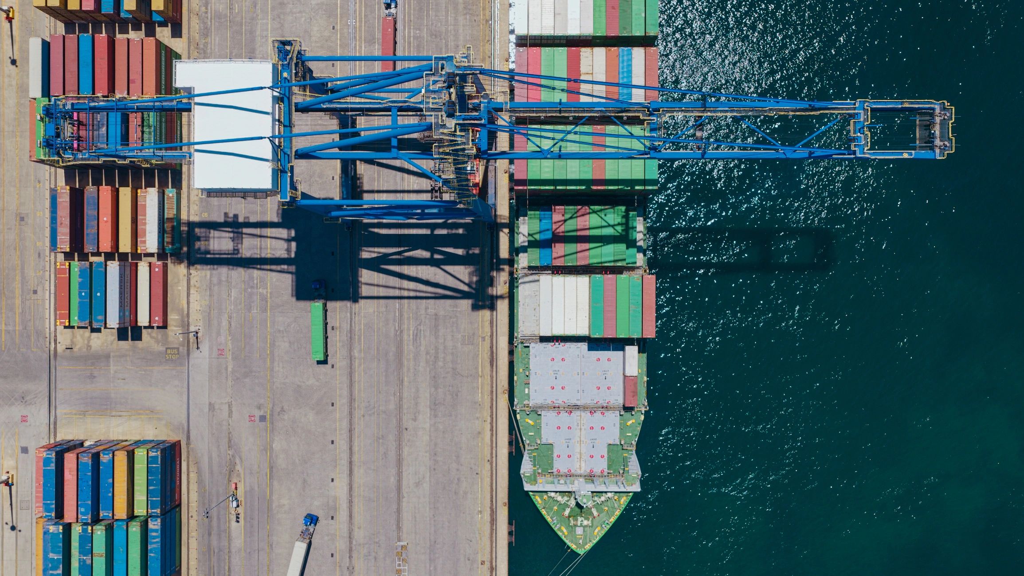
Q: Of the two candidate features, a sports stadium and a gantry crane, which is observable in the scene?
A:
gantry crane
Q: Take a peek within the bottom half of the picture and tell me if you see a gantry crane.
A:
No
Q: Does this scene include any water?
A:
Yes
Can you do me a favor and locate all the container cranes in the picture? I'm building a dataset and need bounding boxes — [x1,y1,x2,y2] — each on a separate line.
[35,37,961,244]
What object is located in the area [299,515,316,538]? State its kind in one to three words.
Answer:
work vehicle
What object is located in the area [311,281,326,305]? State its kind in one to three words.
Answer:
work vehicle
